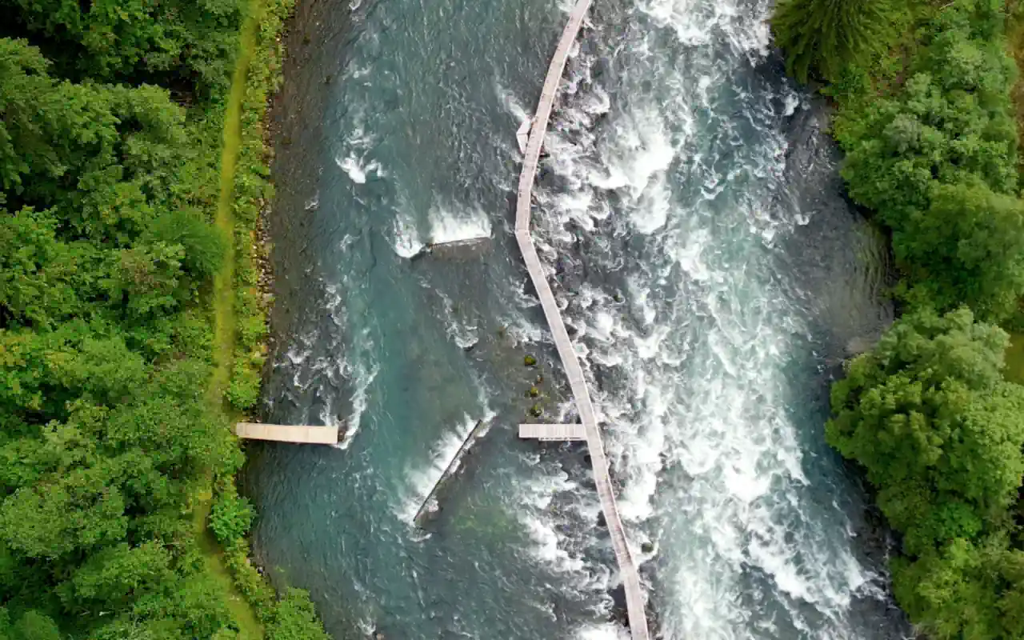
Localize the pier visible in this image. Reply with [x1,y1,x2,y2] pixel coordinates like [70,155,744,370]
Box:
[236,422,340,444]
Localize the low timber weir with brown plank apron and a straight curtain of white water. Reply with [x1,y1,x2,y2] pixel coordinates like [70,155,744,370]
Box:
[410,236,492,260]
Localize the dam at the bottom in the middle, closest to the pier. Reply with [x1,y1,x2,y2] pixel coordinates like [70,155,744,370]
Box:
[413,420,493,525]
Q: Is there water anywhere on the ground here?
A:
Yes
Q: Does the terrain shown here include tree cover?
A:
Yes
